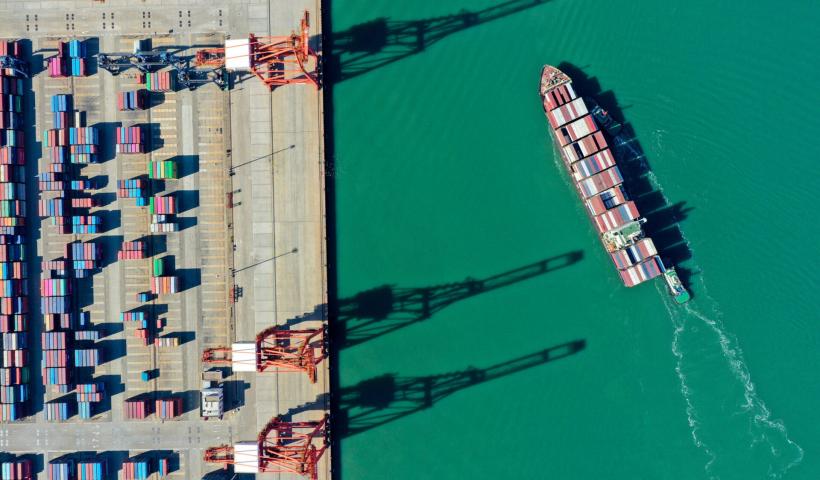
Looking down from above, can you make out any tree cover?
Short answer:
No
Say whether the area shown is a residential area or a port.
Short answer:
port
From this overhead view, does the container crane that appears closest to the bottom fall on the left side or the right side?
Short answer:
left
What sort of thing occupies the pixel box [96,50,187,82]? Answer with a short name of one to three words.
container crane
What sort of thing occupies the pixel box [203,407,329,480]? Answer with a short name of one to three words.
container crane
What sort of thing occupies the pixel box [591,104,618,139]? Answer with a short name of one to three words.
boat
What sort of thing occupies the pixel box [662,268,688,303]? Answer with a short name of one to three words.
boat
